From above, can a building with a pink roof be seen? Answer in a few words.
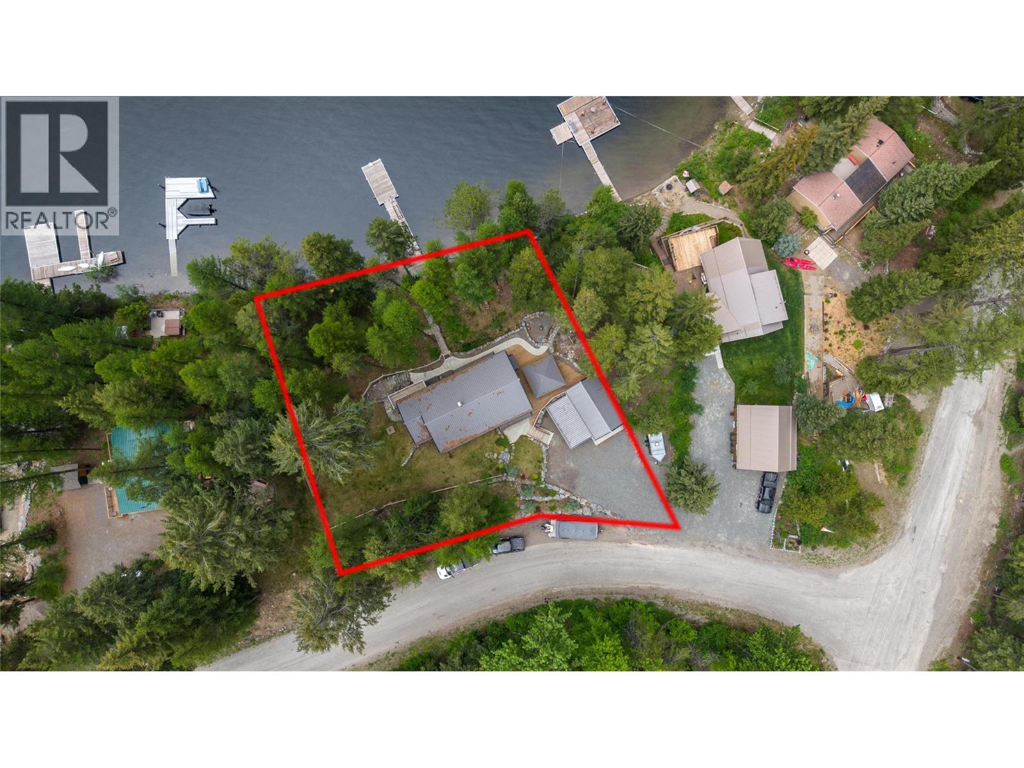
Yes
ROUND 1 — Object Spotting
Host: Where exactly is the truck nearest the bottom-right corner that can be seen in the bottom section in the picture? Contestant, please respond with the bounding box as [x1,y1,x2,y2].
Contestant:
[759,471,781,516]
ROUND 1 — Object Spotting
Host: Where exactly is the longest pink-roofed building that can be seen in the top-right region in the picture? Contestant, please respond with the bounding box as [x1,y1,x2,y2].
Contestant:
[787,127,919,248]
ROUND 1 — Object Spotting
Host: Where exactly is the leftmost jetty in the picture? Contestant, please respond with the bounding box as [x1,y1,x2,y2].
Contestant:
[24,209,125,294]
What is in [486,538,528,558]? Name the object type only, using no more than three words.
vehicle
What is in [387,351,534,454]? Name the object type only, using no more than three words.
house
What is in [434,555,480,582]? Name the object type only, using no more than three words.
truck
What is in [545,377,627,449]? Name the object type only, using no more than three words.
building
